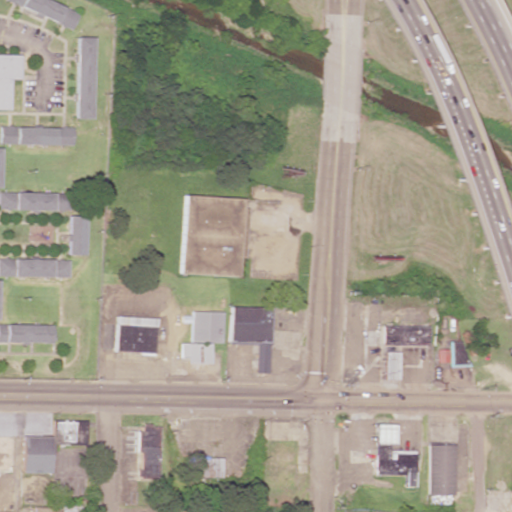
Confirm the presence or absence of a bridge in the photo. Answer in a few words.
Yes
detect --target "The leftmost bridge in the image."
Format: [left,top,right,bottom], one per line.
[322,15,364,142]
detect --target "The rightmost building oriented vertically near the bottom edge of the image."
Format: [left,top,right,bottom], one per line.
[428,444,458,506]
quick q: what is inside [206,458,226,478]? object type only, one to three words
shed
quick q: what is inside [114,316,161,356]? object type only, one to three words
building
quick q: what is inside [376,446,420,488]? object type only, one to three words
building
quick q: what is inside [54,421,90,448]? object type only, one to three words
house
